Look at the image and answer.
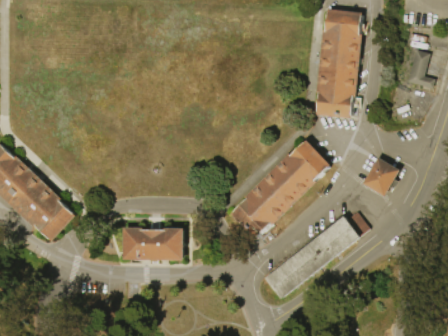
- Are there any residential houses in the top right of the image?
Yes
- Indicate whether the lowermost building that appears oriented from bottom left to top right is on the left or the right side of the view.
right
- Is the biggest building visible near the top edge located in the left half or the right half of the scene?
right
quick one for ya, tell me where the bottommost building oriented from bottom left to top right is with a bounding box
[266,217,360,299]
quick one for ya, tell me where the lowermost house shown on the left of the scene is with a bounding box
[123,228,186,264]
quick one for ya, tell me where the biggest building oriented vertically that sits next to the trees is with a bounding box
[314,10,366,118]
